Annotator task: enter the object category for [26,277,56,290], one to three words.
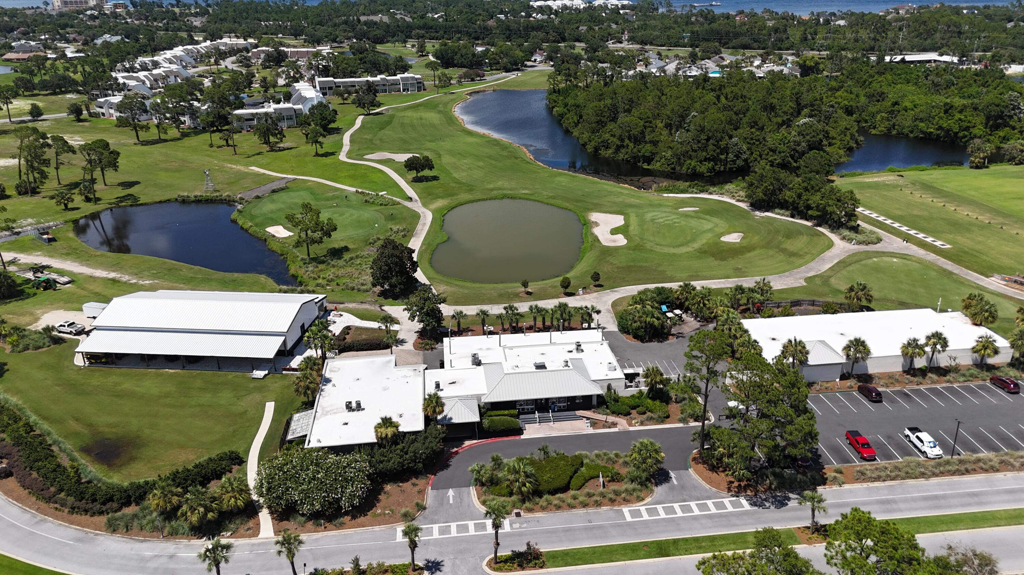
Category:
vehicle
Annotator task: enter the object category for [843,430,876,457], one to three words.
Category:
truck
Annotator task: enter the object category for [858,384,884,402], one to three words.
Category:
car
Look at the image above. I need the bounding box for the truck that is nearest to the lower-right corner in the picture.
[906,429,942,456]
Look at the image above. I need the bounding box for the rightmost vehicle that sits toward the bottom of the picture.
[990,375,1020,392]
